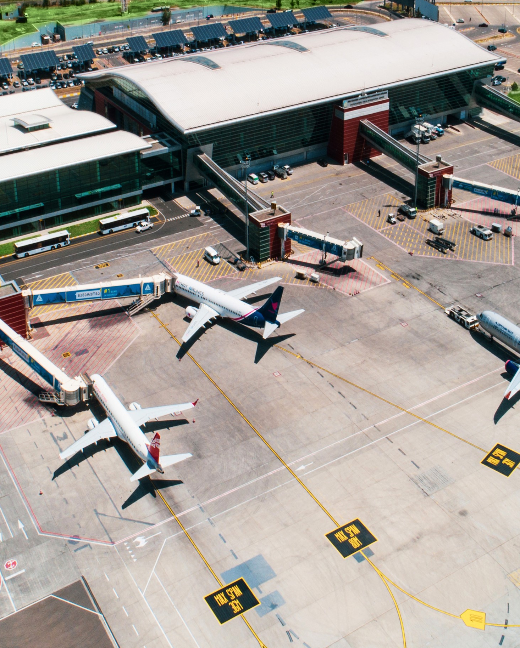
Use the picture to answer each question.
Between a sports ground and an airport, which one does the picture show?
airport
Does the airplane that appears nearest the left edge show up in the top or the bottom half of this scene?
bottom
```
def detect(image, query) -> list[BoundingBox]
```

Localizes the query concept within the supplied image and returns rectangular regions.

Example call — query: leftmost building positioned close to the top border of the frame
[0,1,23,19]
